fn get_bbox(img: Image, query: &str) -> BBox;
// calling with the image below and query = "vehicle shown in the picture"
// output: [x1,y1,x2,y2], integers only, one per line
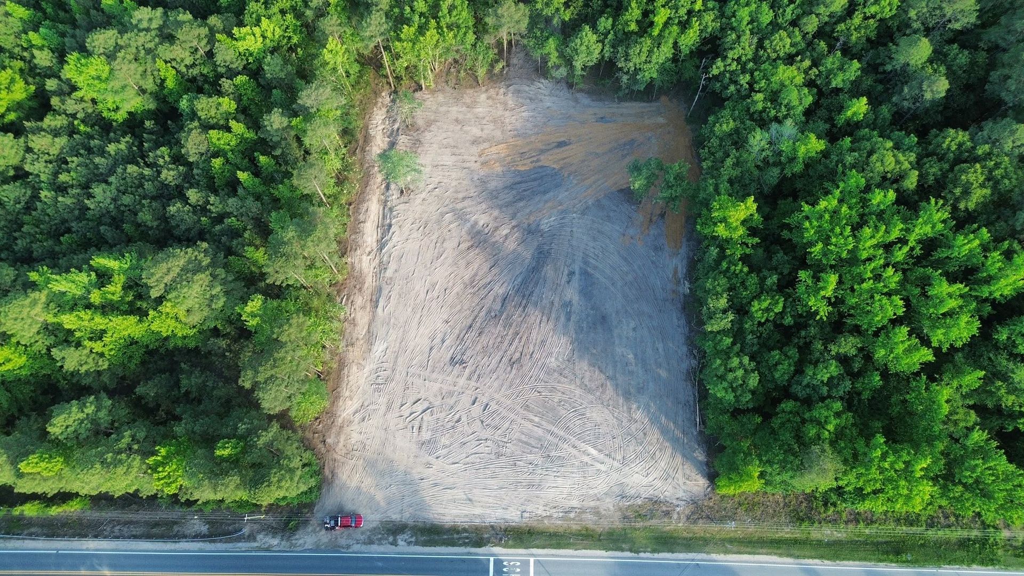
[323,513,365,531]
